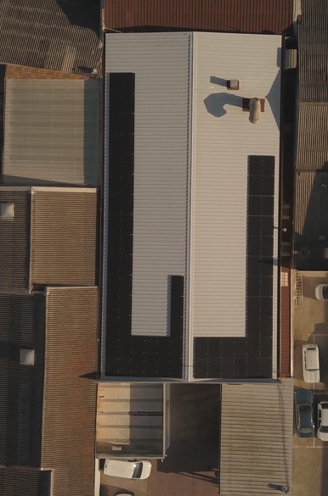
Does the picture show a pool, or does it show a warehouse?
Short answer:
warehouse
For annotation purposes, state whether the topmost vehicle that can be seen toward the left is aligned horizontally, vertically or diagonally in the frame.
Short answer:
horizontally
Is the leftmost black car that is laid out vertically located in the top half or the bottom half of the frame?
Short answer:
bottom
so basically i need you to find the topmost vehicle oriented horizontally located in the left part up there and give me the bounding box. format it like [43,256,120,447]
[101,459,151,484]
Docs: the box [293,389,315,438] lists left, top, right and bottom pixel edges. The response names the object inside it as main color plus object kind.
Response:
black car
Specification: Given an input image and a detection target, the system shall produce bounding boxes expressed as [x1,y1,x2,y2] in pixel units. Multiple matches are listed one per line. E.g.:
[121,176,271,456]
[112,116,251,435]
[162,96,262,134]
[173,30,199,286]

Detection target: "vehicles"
[300,343,322,384]
[293,389,315,438]
[315,400,328,441]
[101,459,151,484]
[314,282,328,301]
